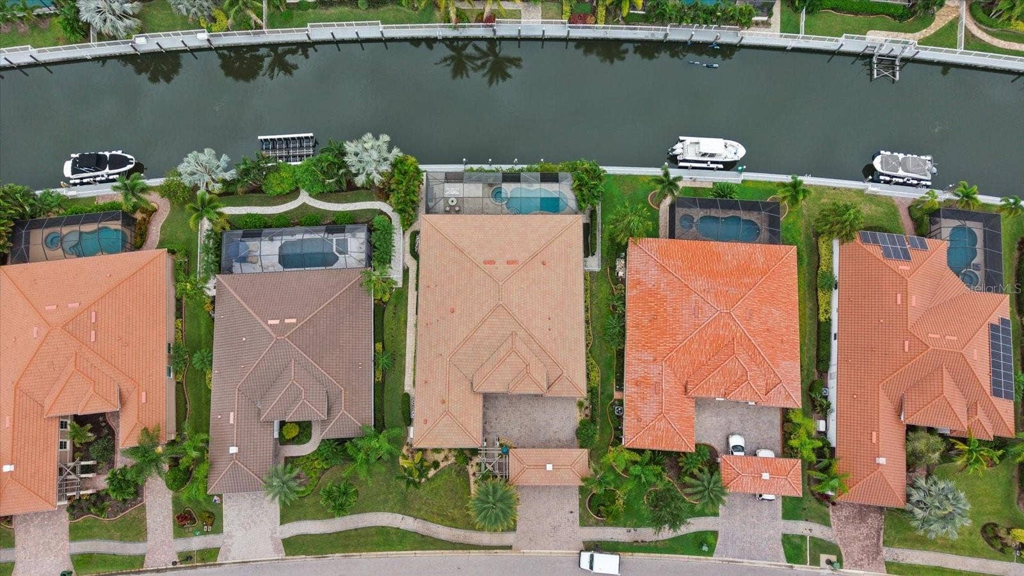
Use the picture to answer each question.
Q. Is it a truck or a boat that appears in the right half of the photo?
boat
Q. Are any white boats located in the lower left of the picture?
No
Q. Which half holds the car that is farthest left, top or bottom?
bottom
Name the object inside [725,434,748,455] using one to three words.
car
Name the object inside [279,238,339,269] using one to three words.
swimming pool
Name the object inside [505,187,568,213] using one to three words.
swimming pool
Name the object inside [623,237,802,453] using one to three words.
house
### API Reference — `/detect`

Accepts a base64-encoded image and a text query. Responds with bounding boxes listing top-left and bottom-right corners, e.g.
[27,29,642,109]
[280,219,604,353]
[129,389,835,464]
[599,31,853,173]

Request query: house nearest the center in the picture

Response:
[413,213,588,448]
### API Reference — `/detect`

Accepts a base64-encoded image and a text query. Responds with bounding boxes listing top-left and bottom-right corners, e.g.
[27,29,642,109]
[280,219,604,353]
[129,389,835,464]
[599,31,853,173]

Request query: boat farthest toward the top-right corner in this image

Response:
[872,155,936,185]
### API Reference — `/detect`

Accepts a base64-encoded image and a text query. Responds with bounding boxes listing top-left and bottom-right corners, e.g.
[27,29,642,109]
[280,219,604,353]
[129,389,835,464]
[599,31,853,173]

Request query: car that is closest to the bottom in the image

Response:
[577,548,622,575]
